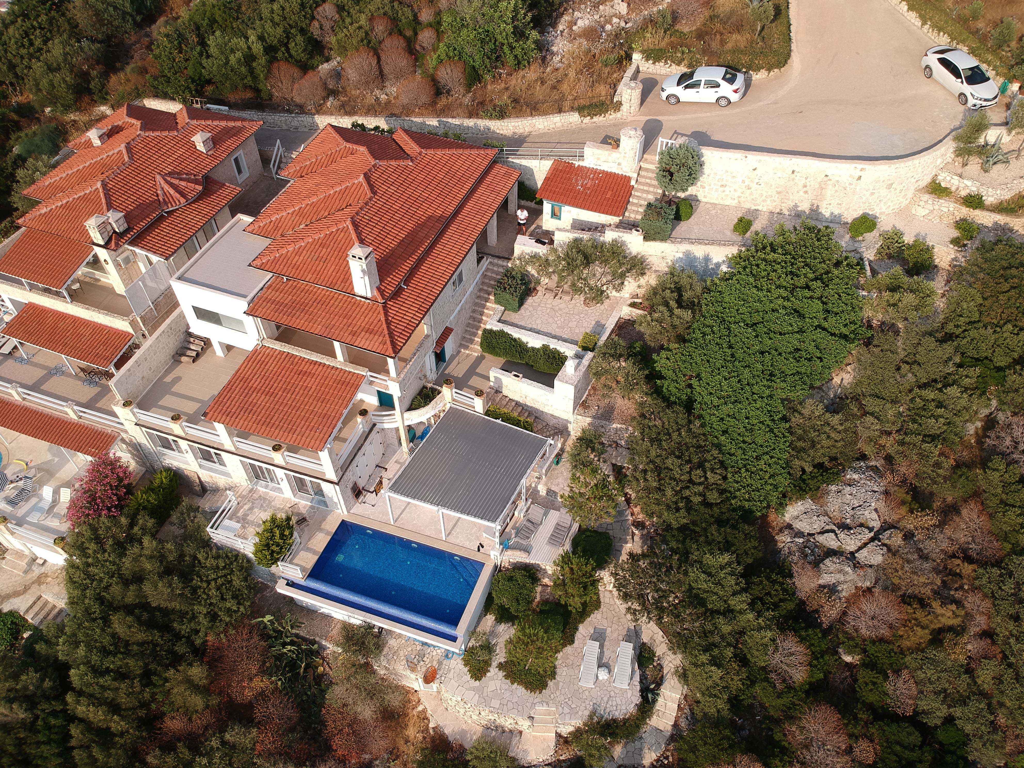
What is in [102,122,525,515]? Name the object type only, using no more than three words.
house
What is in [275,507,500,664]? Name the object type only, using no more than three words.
swimming pool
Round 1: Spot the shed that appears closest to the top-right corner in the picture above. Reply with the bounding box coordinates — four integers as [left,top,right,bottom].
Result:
[533,165,632,231]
